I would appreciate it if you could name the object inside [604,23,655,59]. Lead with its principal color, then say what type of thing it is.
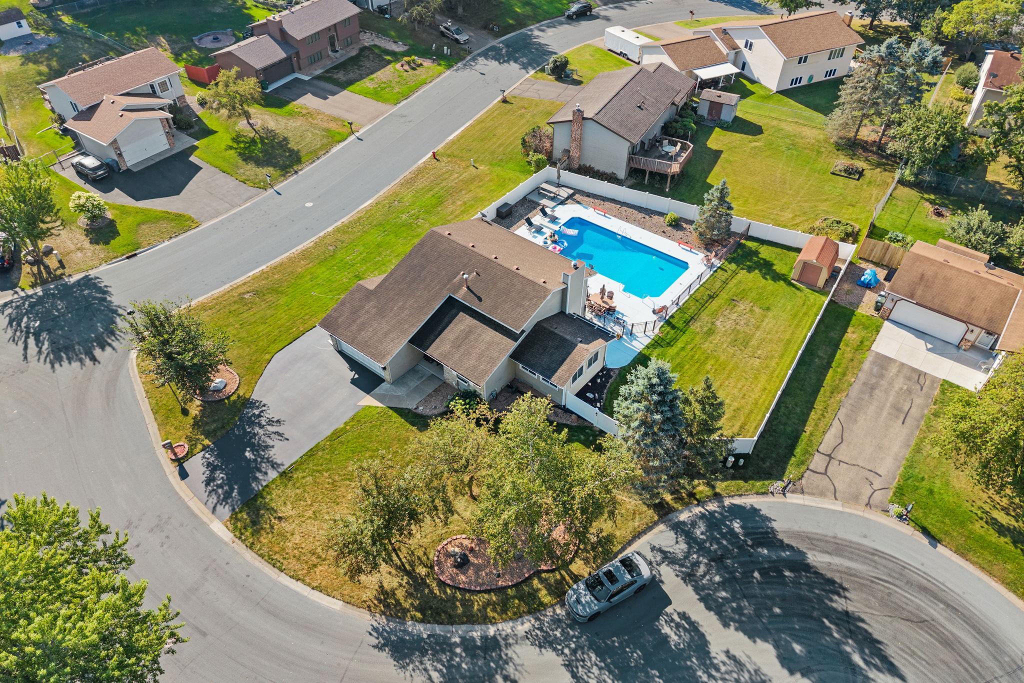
white trailer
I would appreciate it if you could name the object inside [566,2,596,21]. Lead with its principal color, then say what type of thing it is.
black car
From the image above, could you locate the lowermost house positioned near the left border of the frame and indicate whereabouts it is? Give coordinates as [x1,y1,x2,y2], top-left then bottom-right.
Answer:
[34,47,187,170]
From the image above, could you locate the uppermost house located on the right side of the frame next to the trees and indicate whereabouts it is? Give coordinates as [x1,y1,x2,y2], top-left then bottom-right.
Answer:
[640,4,865,90]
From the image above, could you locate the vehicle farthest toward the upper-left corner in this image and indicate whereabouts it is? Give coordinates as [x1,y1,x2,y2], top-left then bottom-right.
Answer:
[71,151,108,177]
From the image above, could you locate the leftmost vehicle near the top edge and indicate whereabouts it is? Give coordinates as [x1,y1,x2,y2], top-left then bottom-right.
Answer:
[439,21,467,42]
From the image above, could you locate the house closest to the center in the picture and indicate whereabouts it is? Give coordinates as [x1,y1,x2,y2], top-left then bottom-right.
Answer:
[315,207,619,408]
